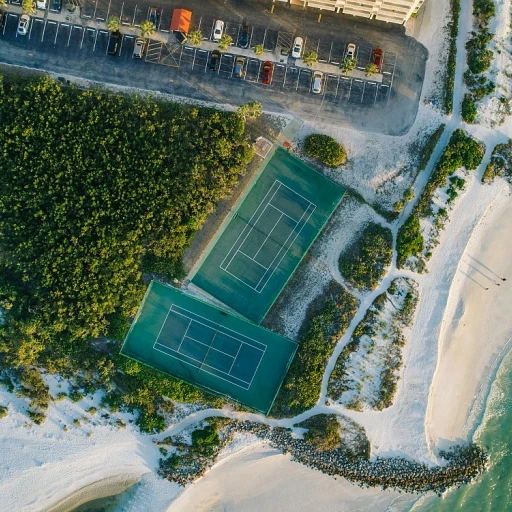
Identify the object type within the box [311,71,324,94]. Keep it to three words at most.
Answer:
vehicle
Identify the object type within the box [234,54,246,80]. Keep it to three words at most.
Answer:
vehicle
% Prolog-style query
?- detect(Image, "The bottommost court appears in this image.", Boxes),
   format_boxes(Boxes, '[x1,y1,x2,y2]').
[121,280,298,416]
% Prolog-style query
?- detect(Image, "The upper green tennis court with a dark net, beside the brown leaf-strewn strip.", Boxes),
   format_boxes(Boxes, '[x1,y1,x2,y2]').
[192,150,344,324]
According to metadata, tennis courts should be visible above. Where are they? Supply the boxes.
[192,150,344,324]
[121,280,298,416]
